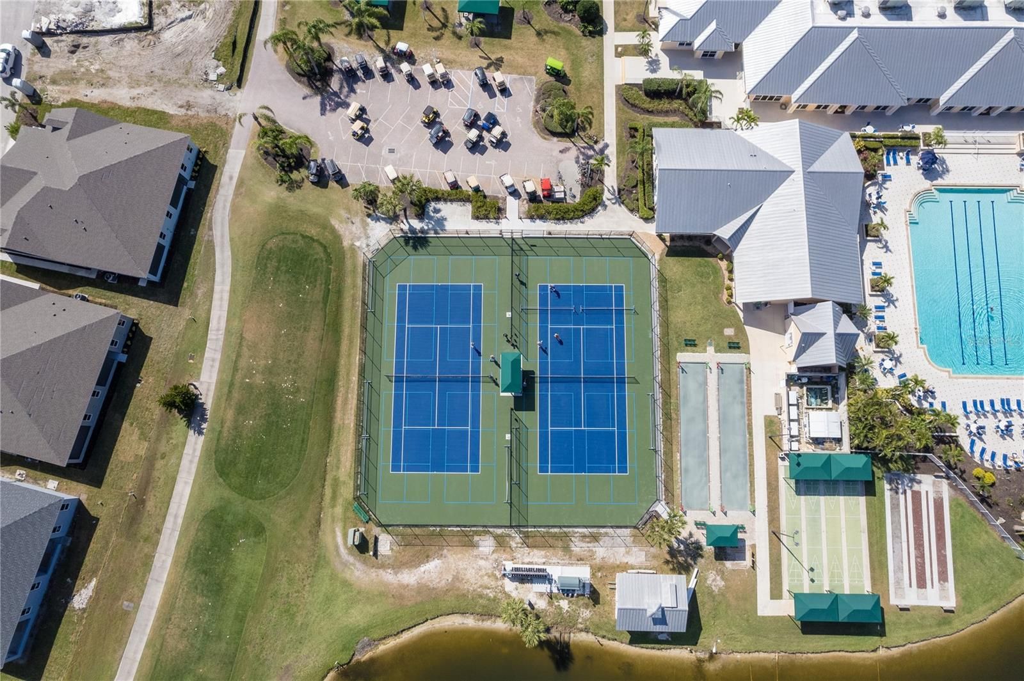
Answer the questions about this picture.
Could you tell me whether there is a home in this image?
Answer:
Yes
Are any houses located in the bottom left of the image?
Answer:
Yes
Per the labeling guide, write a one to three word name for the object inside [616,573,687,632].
shed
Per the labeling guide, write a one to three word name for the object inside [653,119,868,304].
building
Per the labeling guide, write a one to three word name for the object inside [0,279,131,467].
house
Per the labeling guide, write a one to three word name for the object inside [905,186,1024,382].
swimming pool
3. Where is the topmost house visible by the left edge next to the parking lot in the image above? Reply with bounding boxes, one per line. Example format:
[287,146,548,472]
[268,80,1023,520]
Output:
[0,107,199,282]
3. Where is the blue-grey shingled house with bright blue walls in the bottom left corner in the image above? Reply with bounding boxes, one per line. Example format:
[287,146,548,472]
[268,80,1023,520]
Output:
[0,478,79,671]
